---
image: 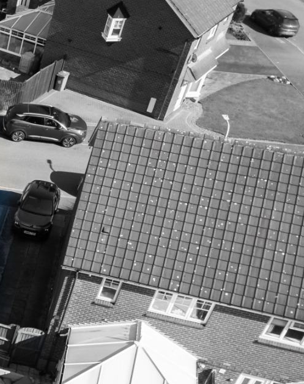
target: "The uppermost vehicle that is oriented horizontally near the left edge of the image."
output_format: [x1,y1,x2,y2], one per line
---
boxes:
[4,103,88,149]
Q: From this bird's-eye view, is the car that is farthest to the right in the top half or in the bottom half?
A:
top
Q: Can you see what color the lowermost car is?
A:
black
